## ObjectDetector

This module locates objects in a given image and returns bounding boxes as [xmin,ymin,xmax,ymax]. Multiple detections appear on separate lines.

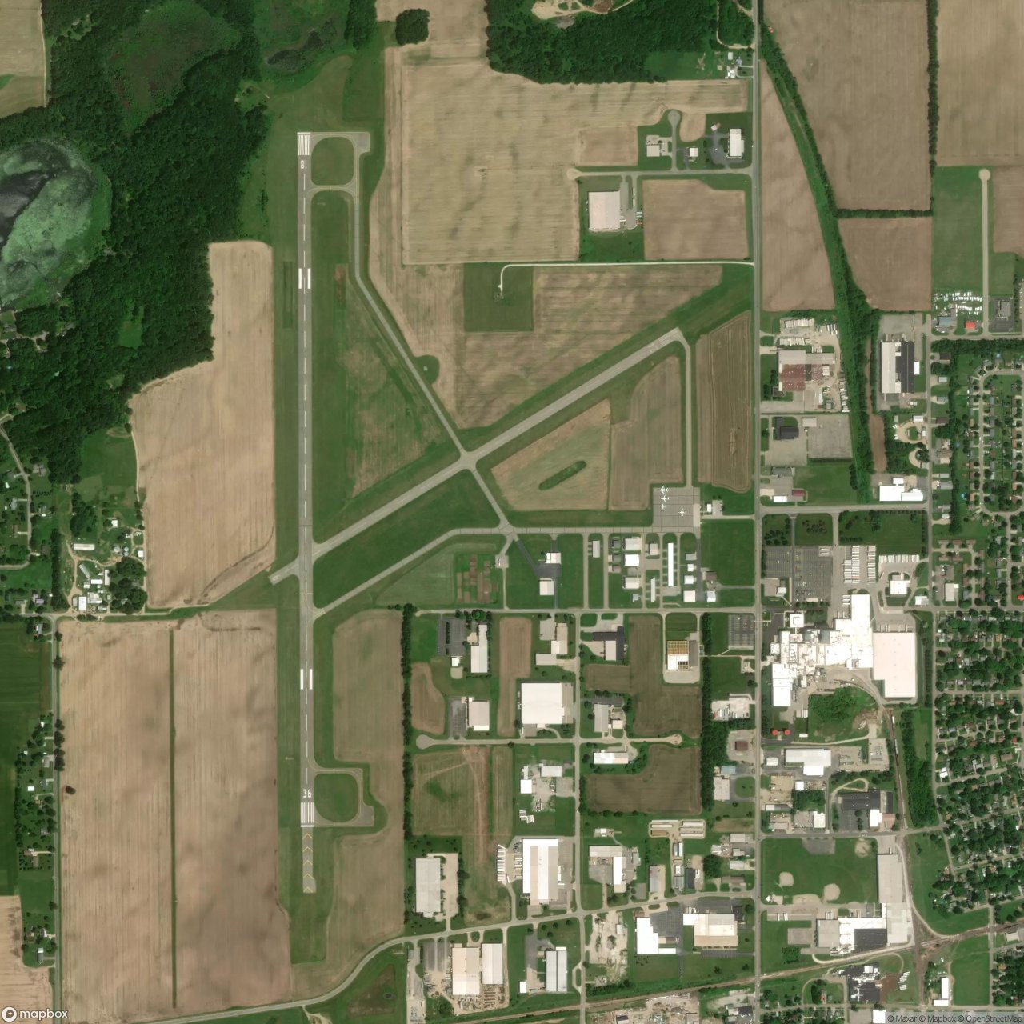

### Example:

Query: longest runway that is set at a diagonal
[269,327,676,585]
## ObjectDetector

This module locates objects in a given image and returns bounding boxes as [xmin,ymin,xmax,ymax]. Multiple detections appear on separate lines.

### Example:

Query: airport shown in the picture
[269,132,707,893]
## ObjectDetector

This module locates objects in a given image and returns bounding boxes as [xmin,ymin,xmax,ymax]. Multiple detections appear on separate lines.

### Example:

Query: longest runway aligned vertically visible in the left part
[298,132,314,827]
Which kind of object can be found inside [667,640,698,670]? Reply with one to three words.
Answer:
building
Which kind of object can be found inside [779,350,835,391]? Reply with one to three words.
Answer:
building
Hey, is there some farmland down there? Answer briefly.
Yes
